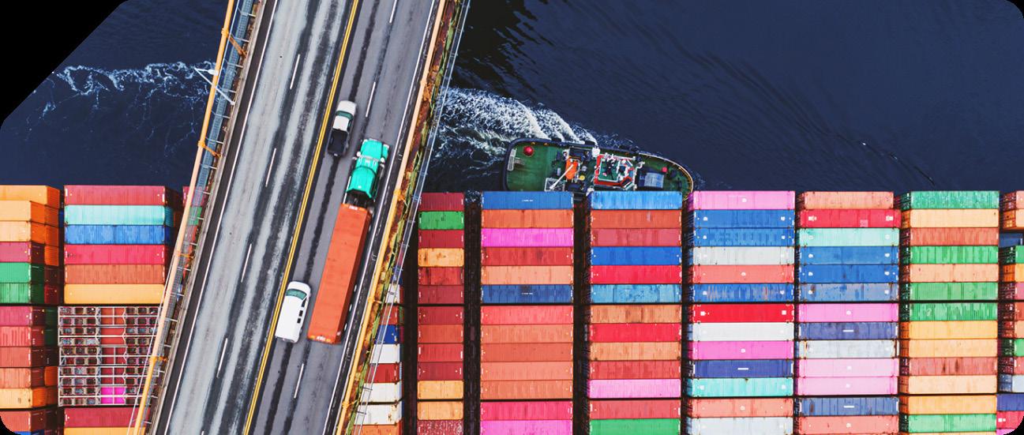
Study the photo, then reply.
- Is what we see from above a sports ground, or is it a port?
port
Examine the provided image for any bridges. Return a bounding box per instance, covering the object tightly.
[128,0,472,435]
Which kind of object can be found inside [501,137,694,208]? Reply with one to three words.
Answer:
boat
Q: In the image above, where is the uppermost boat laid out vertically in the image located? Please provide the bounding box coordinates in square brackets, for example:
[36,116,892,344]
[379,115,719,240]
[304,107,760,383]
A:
[565,159,578,182]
